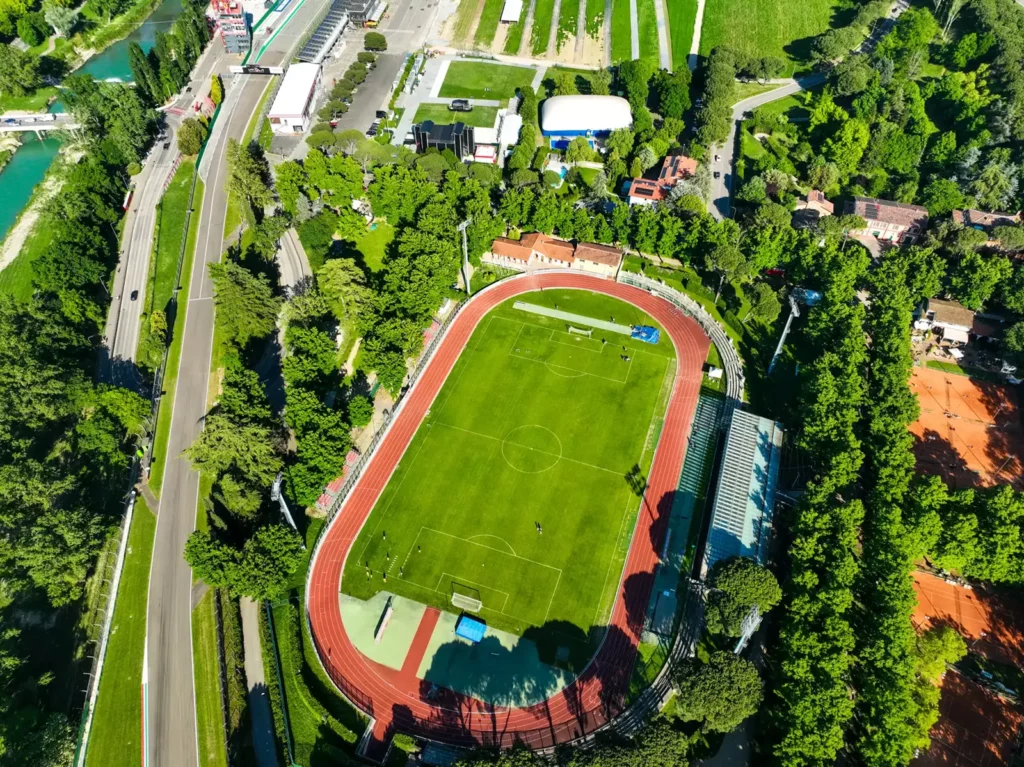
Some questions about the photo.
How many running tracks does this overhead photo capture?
1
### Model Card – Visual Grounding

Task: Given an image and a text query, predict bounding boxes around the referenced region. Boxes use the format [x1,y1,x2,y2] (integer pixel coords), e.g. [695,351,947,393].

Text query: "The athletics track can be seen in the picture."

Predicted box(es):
[308,273,712,762]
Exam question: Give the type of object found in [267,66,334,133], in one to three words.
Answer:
building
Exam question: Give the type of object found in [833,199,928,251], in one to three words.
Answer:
house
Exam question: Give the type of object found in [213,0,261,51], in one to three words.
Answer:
building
